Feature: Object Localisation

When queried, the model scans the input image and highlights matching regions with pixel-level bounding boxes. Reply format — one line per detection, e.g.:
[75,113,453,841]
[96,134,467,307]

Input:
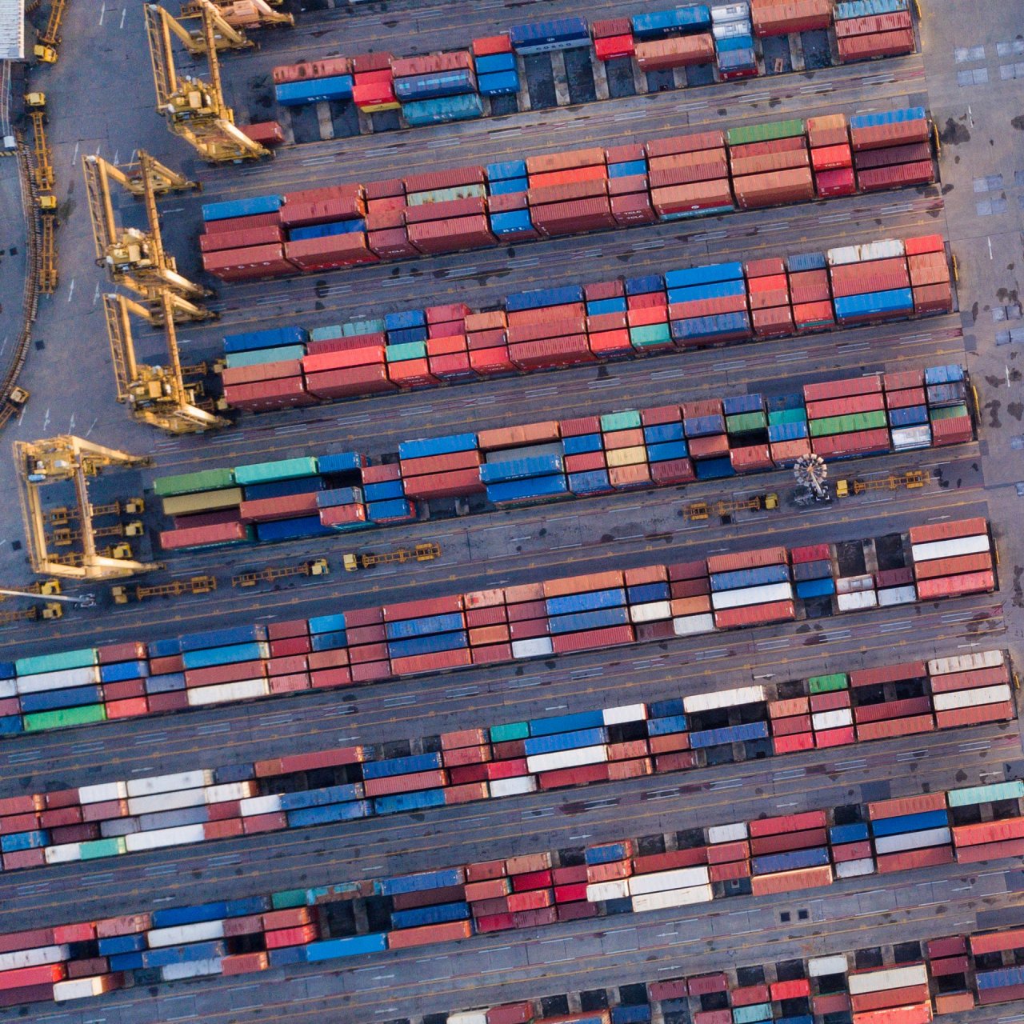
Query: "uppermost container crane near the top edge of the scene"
[198,0,294,33]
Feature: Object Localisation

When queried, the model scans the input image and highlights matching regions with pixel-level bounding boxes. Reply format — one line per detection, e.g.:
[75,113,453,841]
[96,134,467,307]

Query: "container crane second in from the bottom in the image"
[102,288,241,438]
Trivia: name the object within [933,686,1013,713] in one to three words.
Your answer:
shipping container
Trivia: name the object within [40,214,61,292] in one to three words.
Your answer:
trailer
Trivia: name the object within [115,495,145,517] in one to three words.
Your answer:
vehicle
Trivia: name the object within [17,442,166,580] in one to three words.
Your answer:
container crane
